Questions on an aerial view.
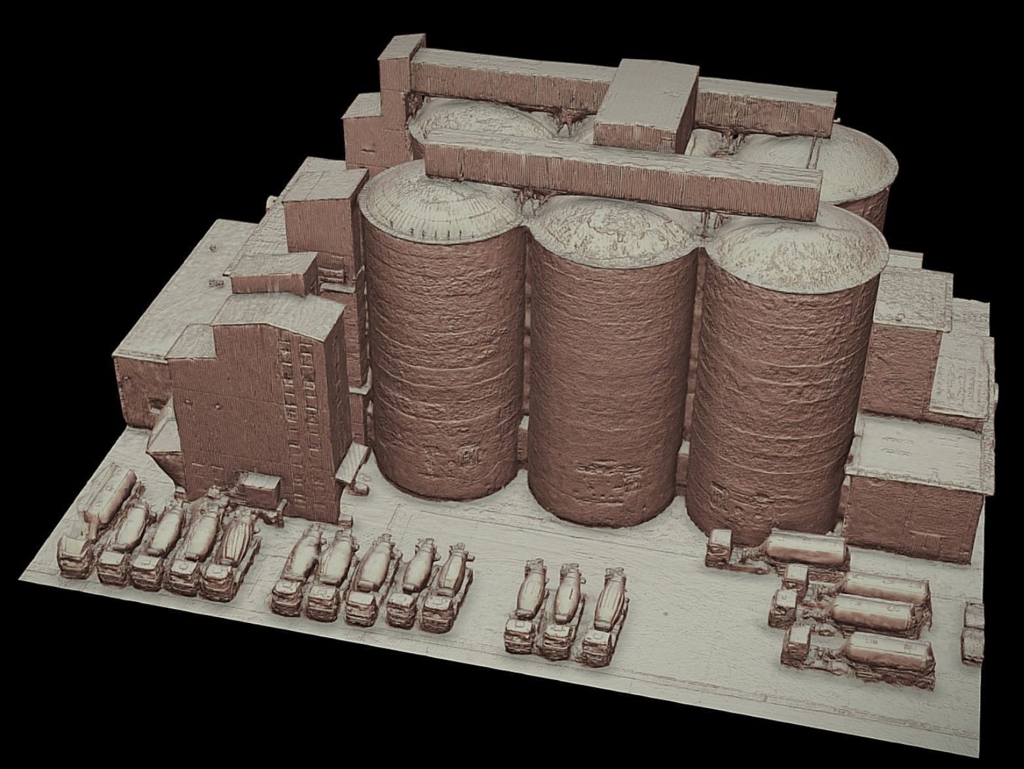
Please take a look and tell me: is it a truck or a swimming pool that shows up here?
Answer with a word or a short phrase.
truck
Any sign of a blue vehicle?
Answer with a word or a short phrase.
No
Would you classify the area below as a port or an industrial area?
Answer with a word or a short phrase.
industrial area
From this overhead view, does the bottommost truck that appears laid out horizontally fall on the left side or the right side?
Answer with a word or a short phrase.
right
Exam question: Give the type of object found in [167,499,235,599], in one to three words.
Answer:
truck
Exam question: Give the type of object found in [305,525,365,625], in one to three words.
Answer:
truck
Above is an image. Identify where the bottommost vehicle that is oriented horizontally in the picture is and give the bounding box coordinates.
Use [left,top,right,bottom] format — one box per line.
[782,625,938,691]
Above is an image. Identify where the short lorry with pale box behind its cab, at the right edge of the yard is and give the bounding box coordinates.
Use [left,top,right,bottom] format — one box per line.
[961,603,985,670]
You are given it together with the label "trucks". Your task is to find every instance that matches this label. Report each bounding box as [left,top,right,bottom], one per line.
[501,555,554,658]
[201,506,266,604]
[420,535,479,635]
[268,516,330,618]
[167,499,235,599]
[704,529,851,589]
[768,589,923,644]
[961,603,985,670]
[343,530,404,630]
[782,625,938,691]
[305,525,365,625]
[780,566,927,625]
[95,493,162,589]
[384,532,445,633]
[60,467,137,584]
[540,559,593,663]
[579,566,633,672]
[129,496,195,593]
